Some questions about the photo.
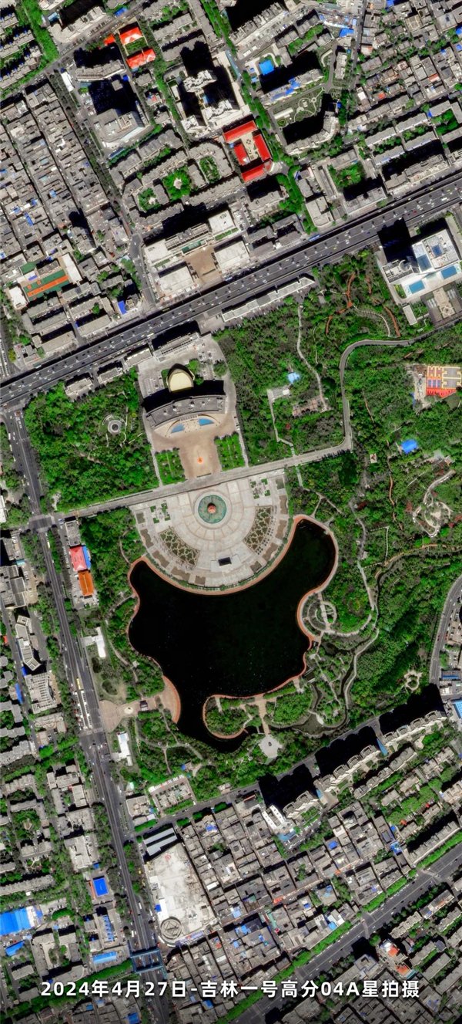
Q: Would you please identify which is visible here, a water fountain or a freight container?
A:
water fountain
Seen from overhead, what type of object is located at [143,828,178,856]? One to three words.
shed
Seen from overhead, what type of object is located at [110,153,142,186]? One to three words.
building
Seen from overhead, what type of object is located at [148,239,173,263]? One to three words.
building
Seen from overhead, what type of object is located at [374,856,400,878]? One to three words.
house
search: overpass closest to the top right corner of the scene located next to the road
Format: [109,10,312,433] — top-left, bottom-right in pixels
[0,179,462,400]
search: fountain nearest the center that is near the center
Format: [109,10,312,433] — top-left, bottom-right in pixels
[197,494,228,524]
